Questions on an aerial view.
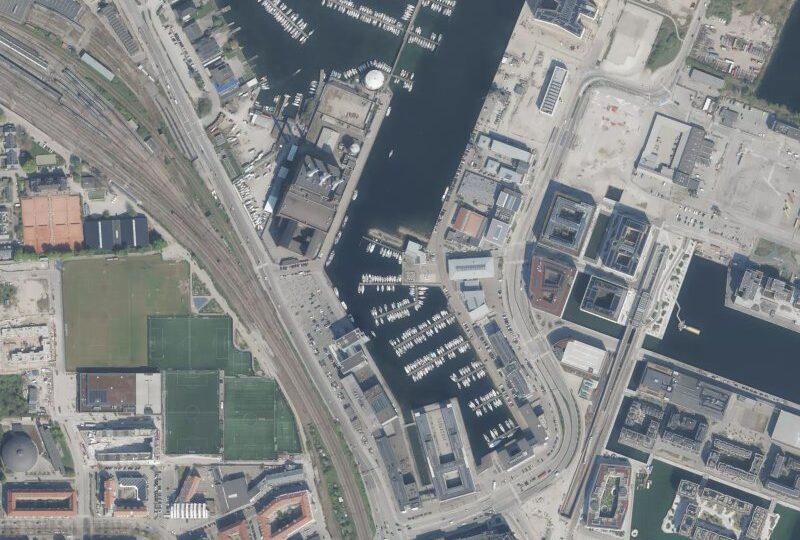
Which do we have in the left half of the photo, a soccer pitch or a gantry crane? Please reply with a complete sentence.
The feature located in the left half of the photo is a soccer pitch.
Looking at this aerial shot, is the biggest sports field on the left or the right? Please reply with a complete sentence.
You can find the biggest sports field on the left side of the picture.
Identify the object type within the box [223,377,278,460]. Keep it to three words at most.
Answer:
soccer field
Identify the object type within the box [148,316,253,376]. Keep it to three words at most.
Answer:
soccer field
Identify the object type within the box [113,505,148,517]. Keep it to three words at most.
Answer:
house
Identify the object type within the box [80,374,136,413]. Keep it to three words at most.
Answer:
building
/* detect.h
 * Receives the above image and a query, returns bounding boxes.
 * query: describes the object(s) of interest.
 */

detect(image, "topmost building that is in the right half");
[534,0,602,40]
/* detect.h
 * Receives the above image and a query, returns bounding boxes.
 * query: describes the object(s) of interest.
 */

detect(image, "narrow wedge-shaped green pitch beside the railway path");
[273,377,300,452]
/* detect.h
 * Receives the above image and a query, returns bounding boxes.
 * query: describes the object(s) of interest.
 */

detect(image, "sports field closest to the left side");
[63,253,189,371]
